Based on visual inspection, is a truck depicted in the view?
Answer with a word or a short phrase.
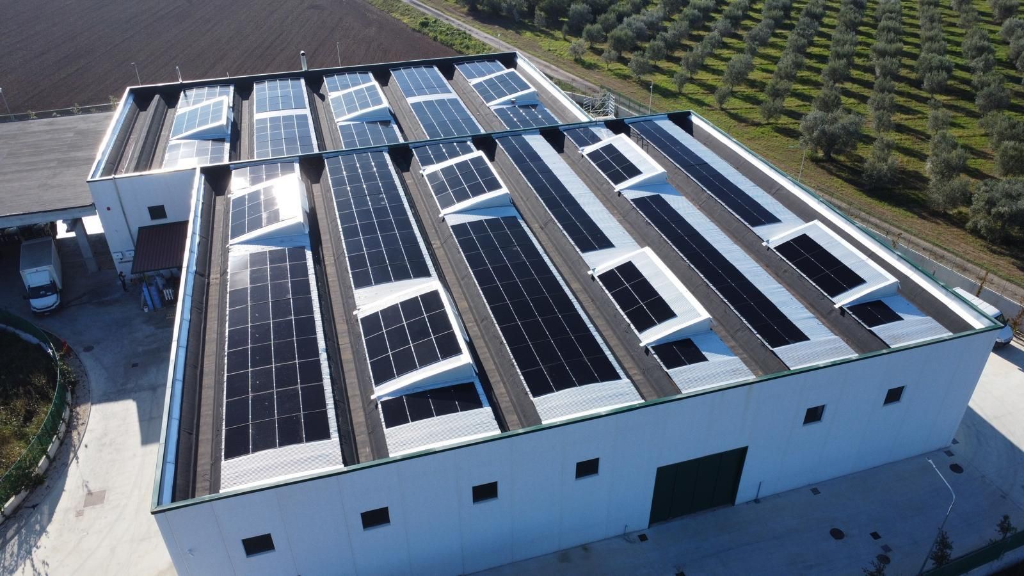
Yes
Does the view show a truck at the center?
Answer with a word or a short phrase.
No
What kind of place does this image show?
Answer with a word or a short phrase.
industrial area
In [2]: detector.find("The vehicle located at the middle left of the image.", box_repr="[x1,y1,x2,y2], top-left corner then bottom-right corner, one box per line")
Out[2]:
[20,237,65,319]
